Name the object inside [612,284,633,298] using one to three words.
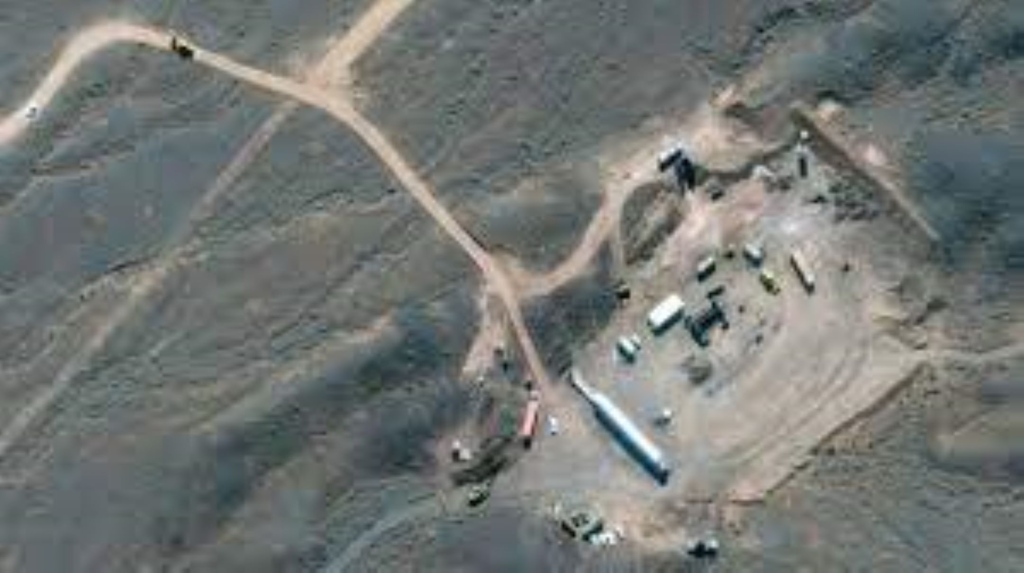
vehicle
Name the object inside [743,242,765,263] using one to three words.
truck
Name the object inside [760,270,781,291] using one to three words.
work vehicle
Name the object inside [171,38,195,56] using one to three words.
vehicle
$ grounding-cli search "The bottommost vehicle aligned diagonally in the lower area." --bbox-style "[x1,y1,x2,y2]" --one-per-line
[465,486,486,503]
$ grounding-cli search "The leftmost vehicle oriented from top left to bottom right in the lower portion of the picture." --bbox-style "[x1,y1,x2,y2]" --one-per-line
[616,336,636,358]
